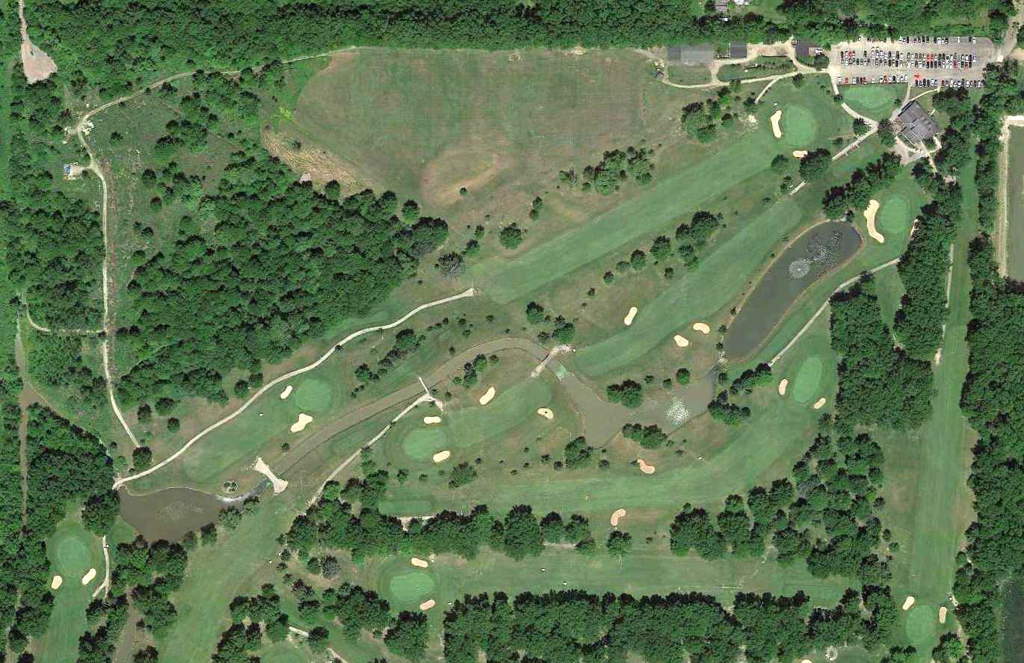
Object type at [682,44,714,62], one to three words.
barn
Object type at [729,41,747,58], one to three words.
building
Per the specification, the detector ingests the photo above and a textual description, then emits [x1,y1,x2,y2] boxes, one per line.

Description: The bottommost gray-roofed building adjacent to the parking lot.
[899,100,941,141]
